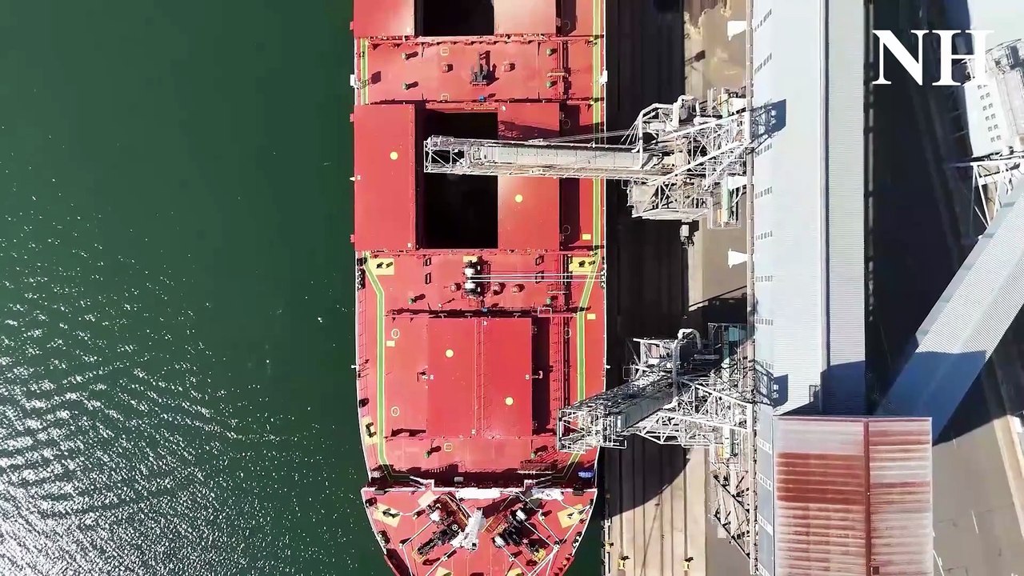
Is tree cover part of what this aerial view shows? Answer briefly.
No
